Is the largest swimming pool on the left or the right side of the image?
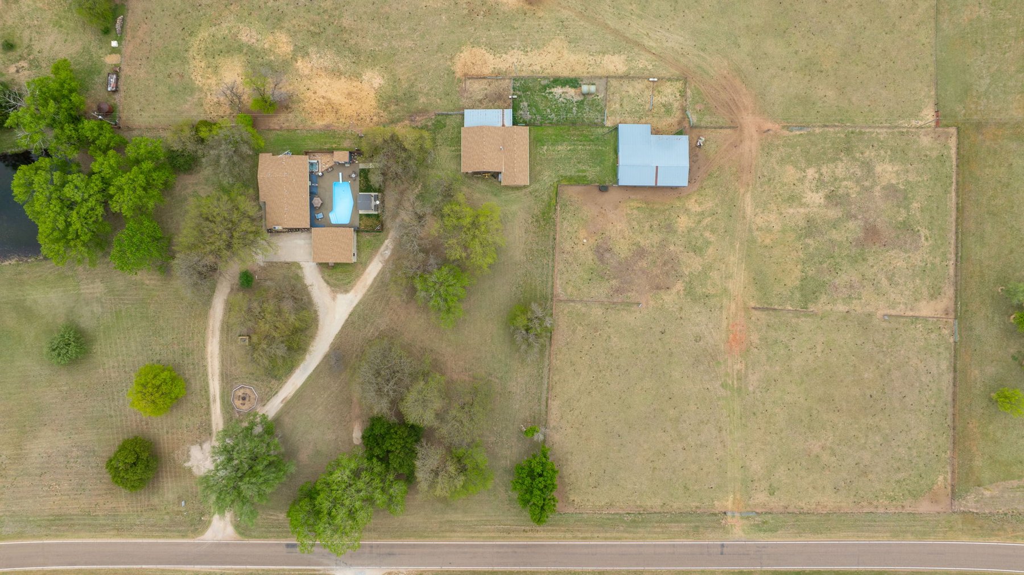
left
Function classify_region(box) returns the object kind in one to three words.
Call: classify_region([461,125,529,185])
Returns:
shed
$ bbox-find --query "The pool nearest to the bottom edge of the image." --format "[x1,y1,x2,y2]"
[328,181,354,225]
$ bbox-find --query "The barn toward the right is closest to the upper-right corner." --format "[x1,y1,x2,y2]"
[616,123,690,187]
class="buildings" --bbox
[312,228,356,263]
[257,153,312,228]
[616,123,690,187]
[461,125,529,185]
[333,151,351,162]
[358,195,373,210]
